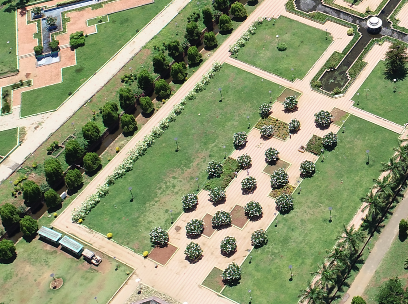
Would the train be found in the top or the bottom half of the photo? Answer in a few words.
bottom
